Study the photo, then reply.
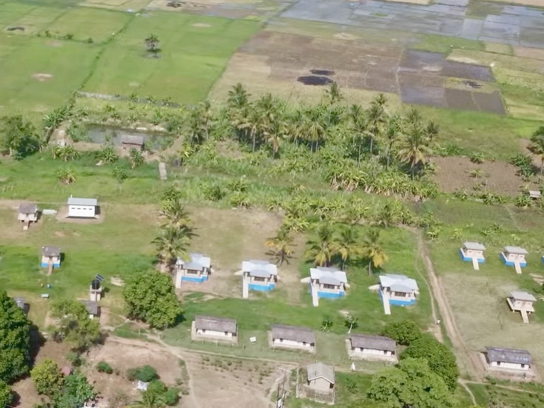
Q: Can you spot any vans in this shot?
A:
No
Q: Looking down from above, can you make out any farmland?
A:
Yes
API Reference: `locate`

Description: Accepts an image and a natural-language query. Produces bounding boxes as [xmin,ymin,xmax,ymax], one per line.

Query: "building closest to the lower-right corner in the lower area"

[480,347,536,380]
